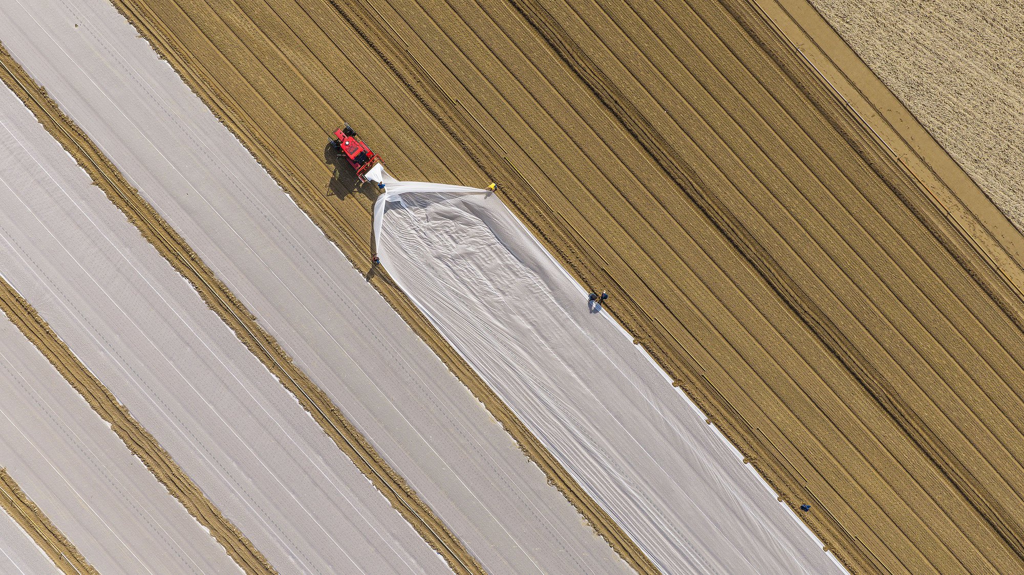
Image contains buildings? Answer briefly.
No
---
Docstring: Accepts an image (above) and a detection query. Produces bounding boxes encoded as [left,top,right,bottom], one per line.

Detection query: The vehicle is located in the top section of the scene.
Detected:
[328,122,386,182]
